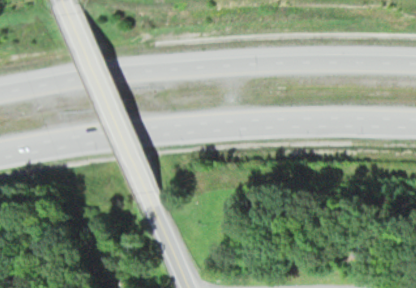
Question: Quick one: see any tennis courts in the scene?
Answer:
No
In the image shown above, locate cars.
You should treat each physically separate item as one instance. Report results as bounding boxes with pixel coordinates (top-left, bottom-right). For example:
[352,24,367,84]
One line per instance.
[18,147,30,152]
[86,126,96,132]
